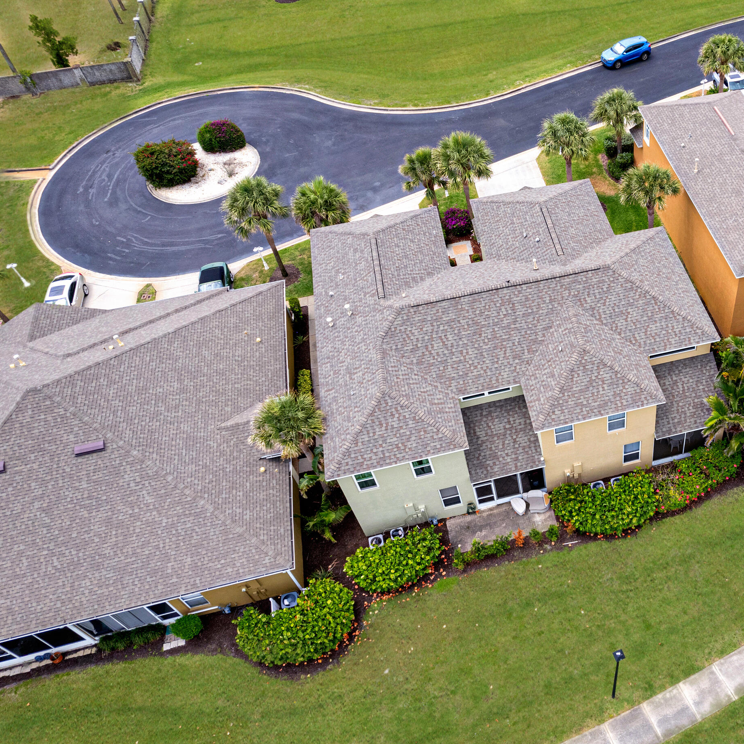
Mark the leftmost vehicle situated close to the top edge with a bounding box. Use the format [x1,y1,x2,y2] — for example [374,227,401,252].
[599,33,655,69]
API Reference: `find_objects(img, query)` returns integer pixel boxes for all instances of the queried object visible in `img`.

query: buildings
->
[308,176,733,536]
[627,88,744,336]
[0,277,314,665]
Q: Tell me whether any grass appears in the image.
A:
Yes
